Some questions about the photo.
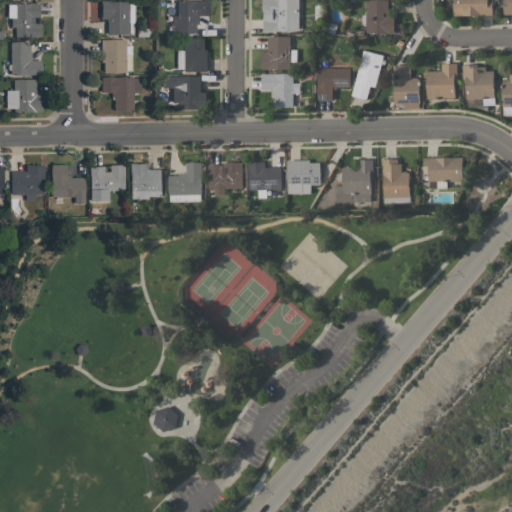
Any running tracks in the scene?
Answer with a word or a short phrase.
No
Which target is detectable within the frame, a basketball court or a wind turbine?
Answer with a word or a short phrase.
basketball court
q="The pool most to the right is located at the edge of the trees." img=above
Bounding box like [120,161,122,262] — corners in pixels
[428,190,456,206]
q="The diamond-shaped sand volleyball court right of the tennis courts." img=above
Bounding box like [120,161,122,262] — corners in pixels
[282,232,348,298]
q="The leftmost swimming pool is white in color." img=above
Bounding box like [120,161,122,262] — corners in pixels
[10,197,28,220]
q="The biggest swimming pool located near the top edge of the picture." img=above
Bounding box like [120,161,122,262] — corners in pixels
[332,10,347,24]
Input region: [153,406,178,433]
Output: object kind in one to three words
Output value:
building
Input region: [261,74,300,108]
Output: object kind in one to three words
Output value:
house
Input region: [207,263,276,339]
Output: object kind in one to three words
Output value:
tennis court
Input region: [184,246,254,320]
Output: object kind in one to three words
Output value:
tennis court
